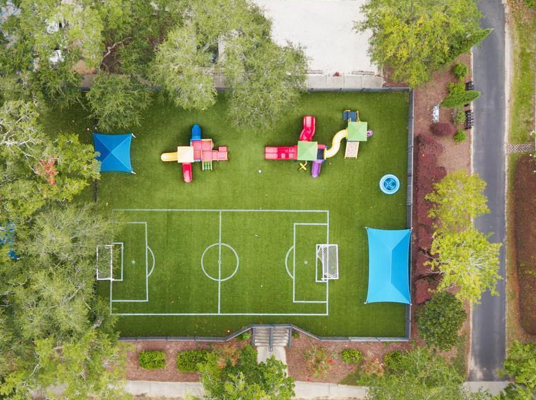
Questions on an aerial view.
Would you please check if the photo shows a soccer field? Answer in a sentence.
Yes, there is a soccer field in the image.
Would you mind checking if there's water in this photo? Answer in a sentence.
No, no water is visible.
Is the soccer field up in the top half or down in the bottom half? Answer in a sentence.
The soccer field sits in the bottom half of the picture.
